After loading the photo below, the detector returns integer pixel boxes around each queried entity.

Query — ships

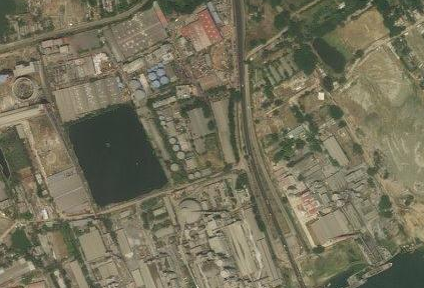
[363,264,391,281]
[345,279,367,288]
